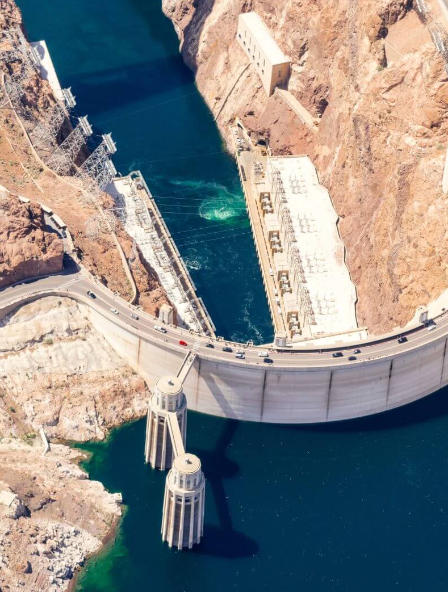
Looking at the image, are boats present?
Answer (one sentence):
No, there isn't any boat down there.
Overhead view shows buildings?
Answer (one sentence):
Yes, you can see a building in this photo.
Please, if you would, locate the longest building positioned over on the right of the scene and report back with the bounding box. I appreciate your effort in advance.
[234,126,359,348]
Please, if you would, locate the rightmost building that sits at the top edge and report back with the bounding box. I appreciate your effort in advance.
[236,12,291,94]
